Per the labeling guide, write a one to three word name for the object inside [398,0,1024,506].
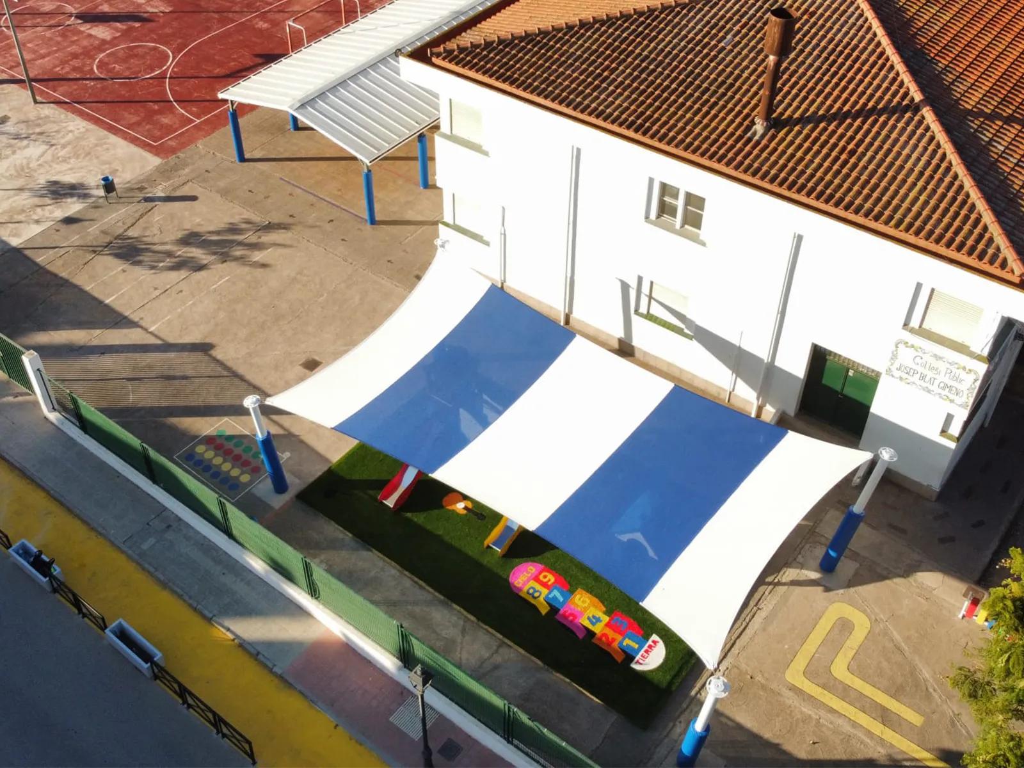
building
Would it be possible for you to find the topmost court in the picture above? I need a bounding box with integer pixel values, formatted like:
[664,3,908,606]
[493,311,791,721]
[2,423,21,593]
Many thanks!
[0,0,396,159]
